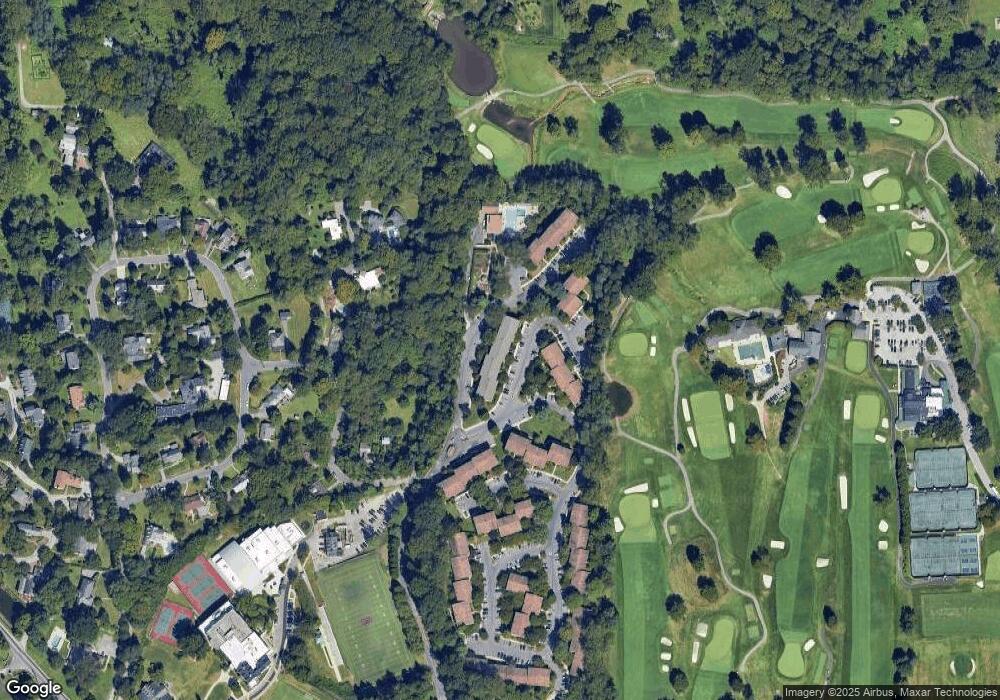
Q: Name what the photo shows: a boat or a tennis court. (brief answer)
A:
tennis court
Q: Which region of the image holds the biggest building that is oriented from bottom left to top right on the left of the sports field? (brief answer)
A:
bottom left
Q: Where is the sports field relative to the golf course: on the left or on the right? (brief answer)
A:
to the left of it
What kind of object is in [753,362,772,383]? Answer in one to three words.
swimming pool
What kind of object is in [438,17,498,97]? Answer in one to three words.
pond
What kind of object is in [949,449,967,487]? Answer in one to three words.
tennis court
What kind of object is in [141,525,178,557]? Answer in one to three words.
house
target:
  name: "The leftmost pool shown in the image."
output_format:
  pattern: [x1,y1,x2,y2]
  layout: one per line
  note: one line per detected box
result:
[48,627,65,652]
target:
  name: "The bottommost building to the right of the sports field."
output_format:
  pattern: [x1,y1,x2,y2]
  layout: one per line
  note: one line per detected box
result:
[492,666,551,687]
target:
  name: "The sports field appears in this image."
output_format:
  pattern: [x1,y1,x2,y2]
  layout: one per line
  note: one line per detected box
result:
[317,549,413,683]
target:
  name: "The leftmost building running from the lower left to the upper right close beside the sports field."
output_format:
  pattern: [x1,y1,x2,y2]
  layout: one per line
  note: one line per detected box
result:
[209,519,305,594]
